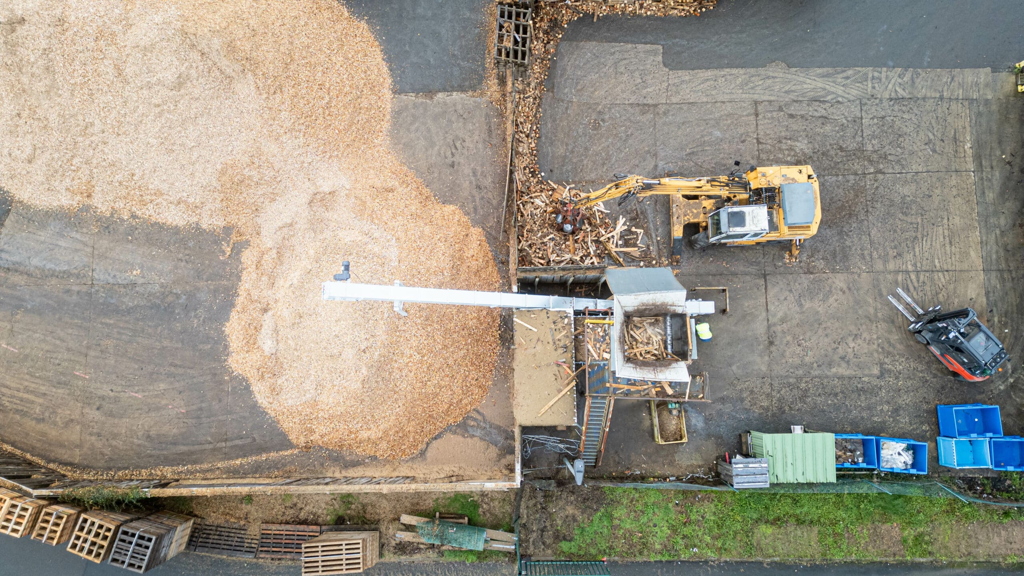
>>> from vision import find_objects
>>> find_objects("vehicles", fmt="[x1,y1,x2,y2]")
[888,288,1011,382]
[552,160,821,269]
